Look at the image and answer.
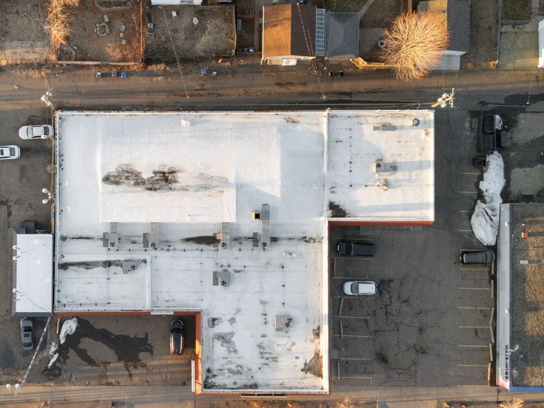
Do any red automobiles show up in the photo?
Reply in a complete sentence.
No, I can't see a single red automobile in this photo.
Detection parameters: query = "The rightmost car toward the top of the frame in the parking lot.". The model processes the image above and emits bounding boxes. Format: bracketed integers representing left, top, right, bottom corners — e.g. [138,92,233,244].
[20,124,51,139]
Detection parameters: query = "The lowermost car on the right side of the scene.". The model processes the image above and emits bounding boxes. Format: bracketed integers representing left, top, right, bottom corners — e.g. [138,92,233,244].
[343,280,377,296]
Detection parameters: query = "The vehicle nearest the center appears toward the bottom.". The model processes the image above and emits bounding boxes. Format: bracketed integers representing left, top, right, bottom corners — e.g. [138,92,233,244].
[336,241,374,258]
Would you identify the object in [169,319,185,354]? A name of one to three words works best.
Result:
car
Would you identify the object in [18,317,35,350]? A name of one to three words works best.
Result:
car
